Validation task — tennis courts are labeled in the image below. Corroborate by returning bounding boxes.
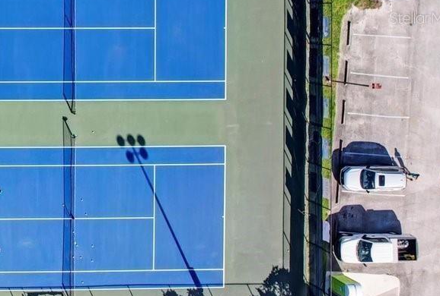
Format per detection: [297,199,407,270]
[0,145,227,291]
[0,0,227,101]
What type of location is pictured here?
sports ground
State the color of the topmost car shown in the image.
white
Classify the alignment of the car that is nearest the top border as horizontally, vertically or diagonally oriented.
horizontally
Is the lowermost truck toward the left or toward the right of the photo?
right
